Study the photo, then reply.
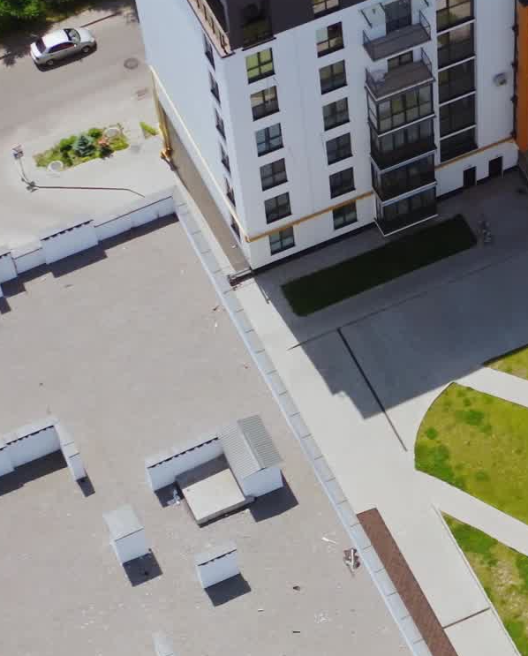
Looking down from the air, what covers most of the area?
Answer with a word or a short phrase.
buildings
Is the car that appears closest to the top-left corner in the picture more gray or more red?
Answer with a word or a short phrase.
gray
